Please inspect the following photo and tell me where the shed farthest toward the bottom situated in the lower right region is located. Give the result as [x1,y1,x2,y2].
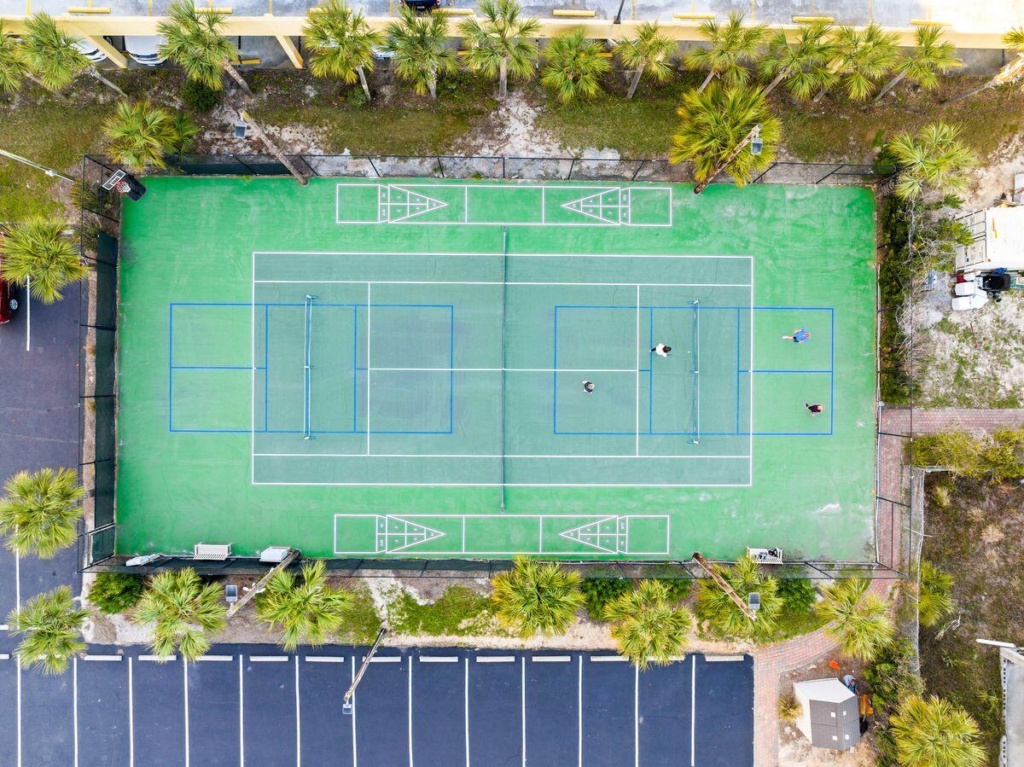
[793,677,861,754]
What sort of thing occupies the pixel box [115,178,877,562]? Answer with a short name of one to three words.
tennis court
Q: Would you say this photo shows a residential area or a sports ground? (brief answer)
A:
sports ground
